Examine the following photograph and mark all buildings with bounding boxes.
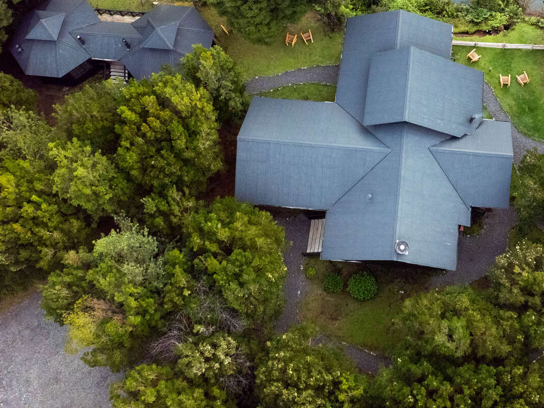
[235,10,513,271]
[8,0,220,95]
